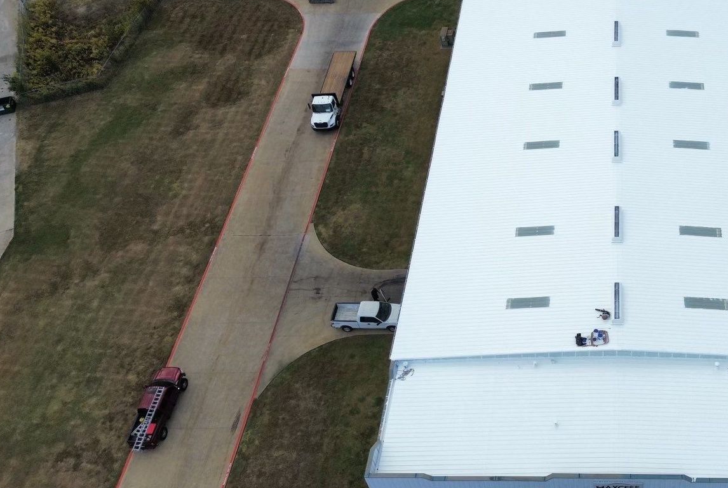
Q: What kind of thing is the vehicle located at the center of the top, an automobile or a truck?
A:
truck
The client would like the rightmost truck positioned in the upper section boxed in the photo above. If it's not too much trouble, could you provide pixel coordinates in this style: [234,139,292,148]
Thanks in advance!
[306,50,357,134]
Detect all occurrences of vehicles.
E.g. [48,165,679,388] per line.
[330,300,398,333]
[124,365,187,448]
[306,50,357,134]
